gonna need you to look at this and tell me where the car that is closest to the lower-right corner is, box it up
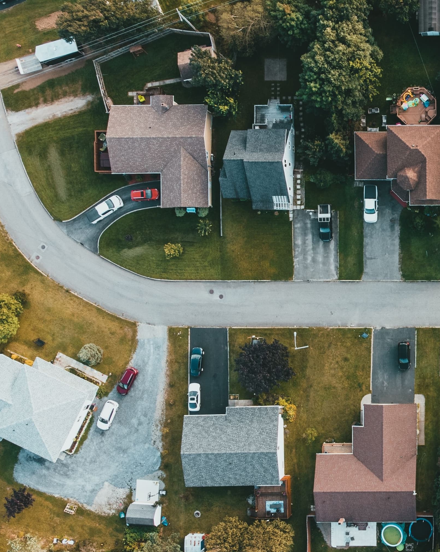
[396,341,411,370]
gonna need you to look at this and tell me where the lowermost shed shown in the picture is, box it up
[184,530,210,552]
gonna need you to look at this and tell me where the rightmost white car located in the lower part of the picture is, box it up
[186,381,203,412]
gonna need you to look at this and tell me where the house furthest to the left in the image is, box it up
[0,351,105,463]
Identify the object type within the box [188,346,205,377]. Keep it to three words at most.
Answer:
car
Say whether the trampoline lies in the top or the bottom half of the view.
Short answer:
bottom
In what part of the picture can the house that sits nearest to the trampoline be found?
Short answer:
bottom right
